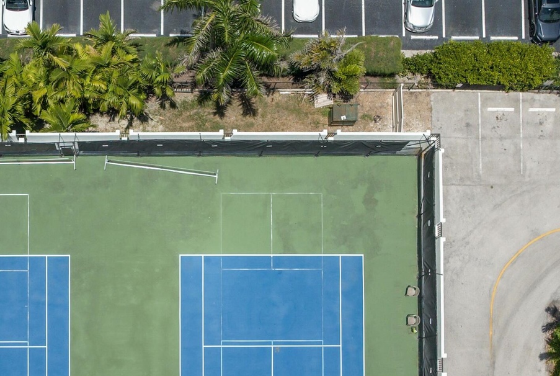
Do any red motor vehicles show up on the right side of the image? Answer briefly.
No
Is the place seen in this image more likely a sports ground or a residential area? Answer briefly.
sports ground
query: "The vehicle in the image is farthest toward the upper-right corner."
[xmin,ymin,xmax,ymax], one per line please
[527,0,560,47]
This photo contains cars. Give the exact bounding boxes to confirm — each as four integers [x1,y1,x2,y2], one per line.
[1,0,35,37]
[402,0,437,35]
[527,0,560,47]
[289,0,323,26]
